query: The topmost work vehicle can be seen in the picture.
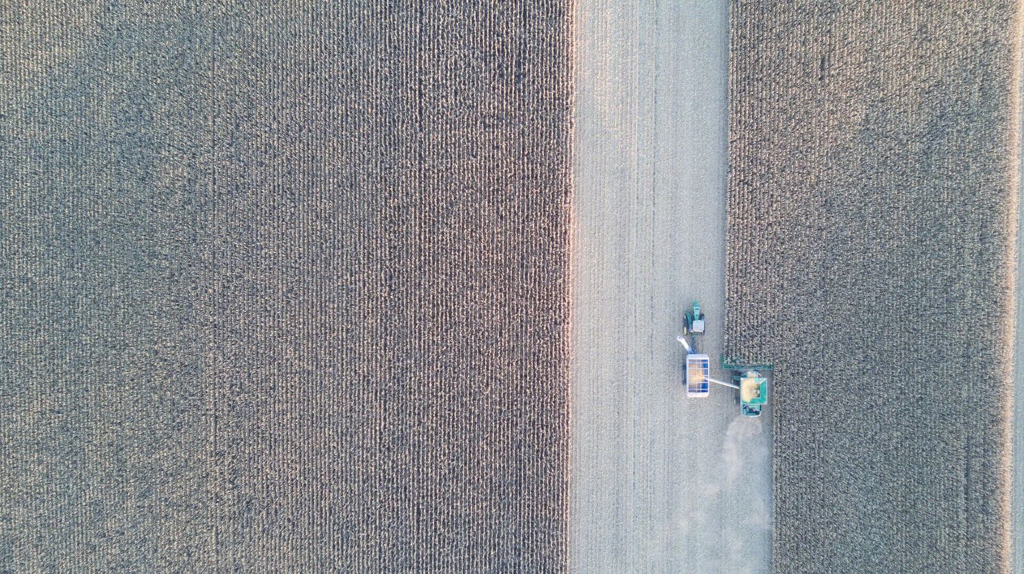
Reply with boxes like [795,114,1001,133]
[683,300,705,337]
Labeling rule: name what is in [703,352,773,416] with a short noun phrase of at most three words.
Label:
work vehicle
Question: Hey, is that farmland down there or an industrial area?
farmland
